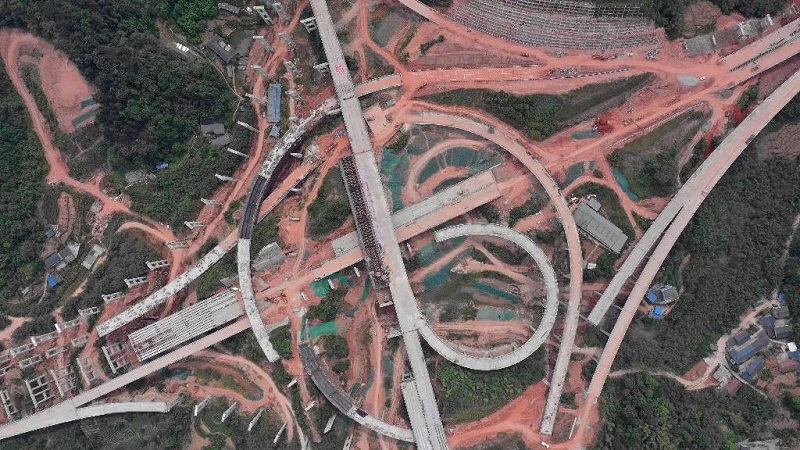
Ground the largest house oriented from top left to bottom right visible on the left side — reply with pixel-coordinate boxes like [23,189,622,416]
[209,35,240,64]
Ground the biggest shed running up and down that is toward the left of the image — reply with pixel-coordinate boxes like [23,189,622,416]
[266,84,282,123]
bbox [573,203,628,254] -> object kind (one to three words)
building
